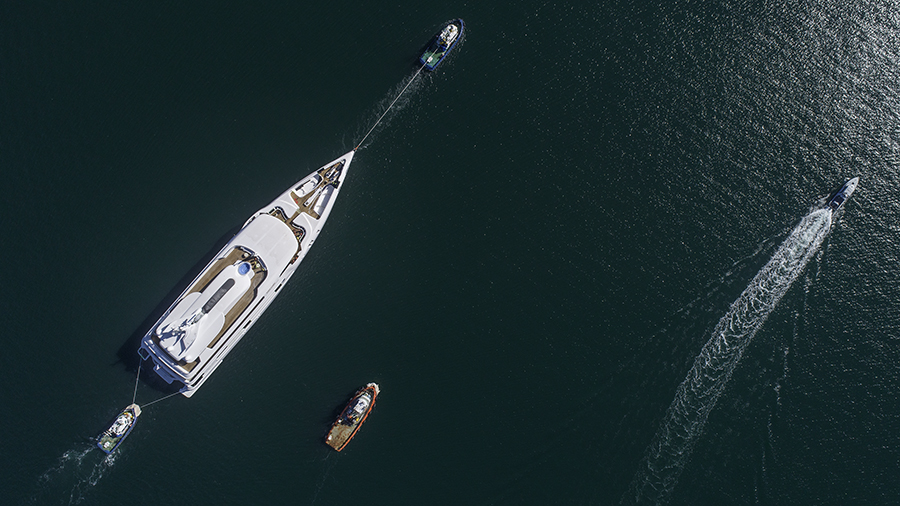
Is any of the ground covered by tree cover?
No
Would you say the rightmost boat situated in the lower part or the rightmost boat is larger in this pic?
the rightmost boat situated in the lower part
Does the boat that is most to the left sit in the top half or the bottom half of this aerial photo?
bottom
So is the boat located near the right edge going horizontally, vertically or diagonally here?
diagonally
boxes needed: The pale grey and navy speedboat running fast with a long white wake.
[827,177,860,211]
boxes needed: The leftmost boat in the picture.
[98,404,139,453]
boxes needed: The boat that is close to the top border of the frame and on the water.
[419,18,464,71]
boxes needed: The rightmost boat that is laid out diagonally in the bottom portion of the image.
[326,384,378,452]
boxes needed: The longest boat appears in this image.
[139,150,355,397]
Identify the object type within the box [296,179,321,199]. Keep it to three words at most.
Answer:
boat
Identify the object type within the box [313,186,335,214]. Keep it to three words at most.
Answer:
boat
